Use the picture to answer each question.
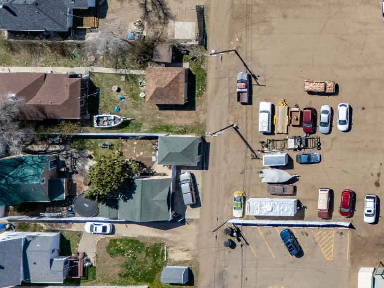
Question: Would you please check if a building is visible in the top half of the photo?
Yes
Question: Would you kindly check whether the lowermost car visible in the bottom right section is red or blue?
blue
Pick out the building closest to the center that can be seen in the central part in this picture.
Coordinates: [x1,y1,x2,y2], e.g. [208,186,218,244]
[158,135,204,166]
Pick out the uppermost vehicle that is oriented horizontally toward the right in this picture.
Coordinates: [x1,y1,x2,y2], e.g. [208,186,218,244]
[305,80,335,93]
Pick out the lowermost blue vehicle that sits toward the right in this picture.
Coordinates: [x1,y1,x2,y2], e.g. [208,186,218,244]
[279,227,303,257]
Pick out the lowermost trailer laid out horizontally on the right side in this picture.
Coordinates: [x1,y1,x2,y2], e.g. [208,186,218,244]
[247,194,310,215]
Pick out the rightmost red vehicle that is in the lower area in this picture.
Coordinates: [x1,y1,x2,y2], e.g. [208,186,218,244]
[342,188,355,217]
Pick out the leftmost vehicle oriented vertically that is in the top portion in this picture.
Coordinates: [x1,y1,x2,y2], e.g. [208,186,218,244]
[234,72,250,104]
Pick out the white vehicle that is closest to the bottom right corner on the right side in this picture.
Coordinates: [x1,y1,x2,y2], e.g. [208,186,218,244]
[364,193,378,222]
